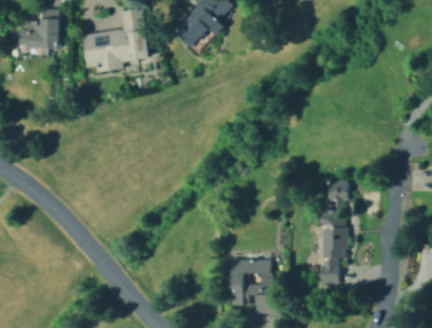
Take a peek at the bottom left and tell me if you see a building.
No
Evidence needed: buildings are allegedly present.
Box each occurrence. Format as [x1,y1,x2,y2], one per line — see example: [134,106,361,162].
[18,8,60,50]
[230,258,274,306]
[320,180,350,286]
[83,10,148,74]
[182,0,234,44]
